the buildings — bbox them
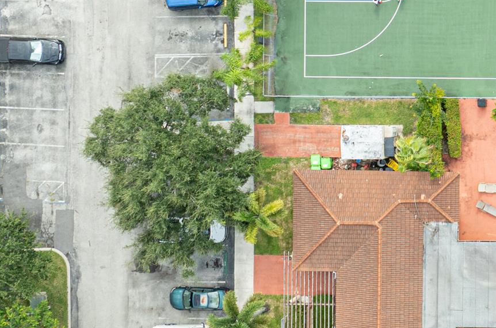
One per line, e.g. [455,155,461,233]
[291,169,496,328]
[341,125,386,160]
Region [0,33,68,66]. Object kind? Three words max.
truck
